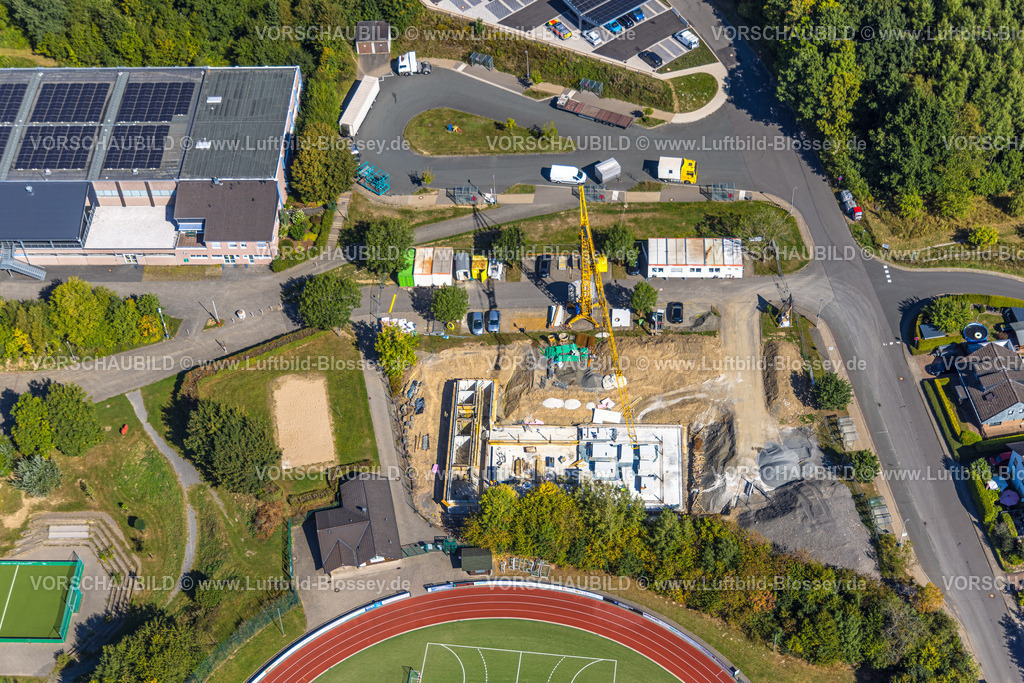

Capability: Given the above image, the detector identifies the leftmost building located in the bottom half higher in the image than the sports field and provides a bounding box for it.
[315,468,402,578]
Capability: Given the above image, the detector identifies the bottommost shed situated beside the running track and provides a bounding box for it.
[458,548,492,577]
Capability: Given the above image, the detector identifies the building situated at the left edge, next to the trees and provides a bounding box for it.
[0,64,303,268]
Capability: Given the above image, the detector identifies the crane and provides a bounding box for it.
[566,182,638,446]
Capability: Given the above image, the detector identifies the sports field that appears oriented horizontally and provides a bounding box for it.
[308,615,688,683]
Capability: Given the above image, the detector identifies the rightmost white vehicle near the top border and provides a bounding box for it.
[674,29,698,46]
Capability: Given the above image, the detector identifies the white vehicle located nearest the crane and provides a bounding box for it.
[551,164,587,184]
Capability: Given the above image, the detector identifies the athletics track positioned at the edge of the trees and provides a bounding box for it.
[265,589,731,683]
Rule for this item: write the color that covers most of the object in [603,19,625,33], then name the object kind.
blue car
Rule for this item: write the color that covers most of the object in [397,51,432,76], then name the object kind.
white truck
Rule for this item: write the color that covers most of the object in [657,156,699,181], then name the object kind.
white truck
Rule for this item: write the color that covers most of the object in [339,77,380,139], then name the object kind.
white trailer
